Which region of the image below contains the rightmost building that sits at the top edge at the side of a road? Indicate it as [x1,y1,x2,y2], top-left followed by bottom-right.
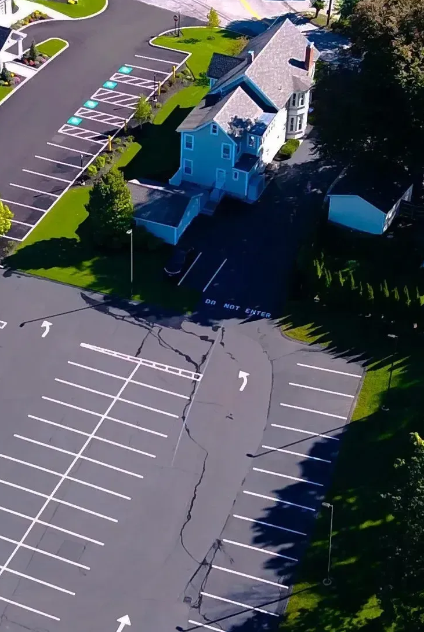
[174,17,321,197]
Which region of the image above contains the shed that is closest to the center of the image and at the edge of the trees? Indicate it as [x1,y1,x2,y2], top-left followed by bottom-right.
[135,184,217,245]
